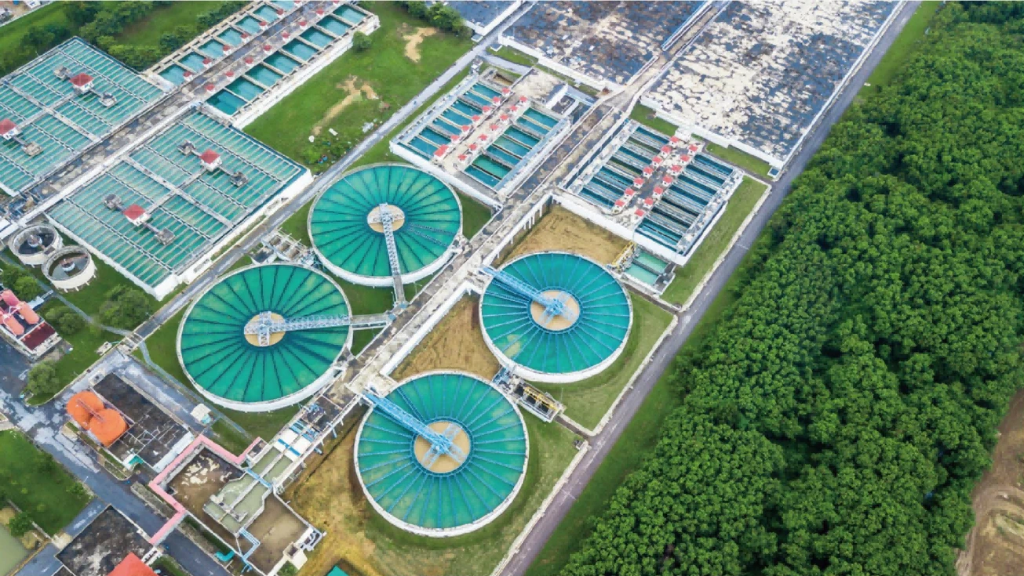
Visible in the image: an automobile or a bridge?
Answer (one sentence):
The image shows a bridge.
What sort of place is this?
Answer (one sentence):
It's an industrial area.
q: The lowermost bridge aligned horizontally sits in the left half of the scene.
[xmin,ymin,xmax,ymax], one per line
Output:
[244,308,362,344]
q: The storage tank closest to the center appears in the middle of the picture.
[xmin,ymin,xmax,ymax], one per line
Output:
[478,247,634,383]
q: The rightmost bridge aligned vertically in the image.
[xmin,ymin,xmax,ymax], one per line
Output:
[368,200,405,284]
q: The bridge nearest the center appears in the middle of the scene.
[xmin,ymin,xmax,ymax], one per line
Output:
[484,262,578,325]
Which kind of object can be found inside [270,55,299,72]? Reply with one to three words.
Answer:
swimming pool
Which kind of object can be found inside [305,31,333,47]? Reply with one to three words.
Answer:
swimming pool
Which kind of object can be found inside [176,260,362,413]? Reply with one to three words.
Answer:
storage tank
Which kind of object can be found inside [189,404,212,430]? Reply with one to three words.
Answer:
shed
